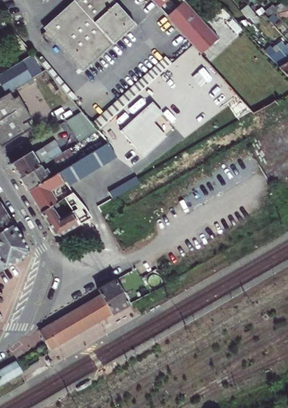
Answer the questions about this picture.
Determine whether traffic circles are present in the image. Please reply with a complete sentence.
No, there appears to be no traffic circle in this shot.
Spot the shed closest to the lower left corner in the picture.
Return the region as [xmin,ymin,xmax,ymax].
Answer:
[0,360,23,386]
